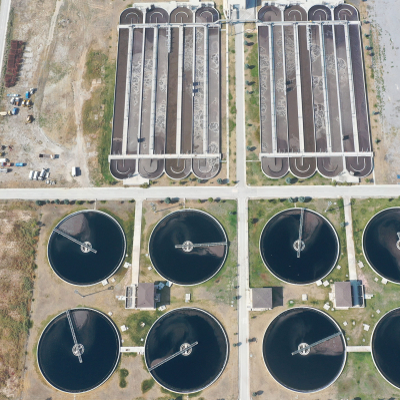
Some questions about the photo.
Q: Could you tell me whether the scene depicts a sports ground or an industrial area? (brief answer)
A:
industrial area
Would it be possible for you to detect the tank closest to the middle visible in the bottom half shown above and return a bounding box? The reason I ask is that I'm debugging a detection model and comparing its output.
[148,209,228,286]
